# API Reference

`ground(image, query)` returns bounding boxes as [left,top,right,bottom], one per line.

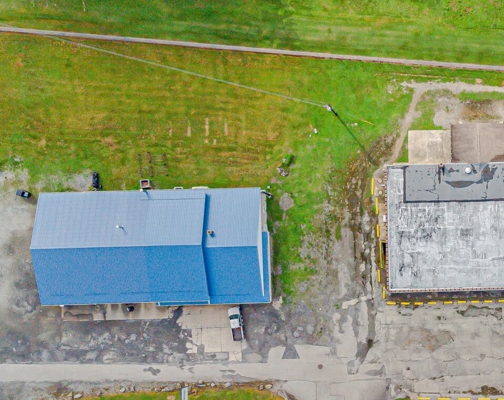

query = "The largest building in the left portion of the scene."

[30,185,275,309]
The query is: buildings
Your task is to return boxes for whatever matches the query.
[381,163,504,296]
[30,185,275,309]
